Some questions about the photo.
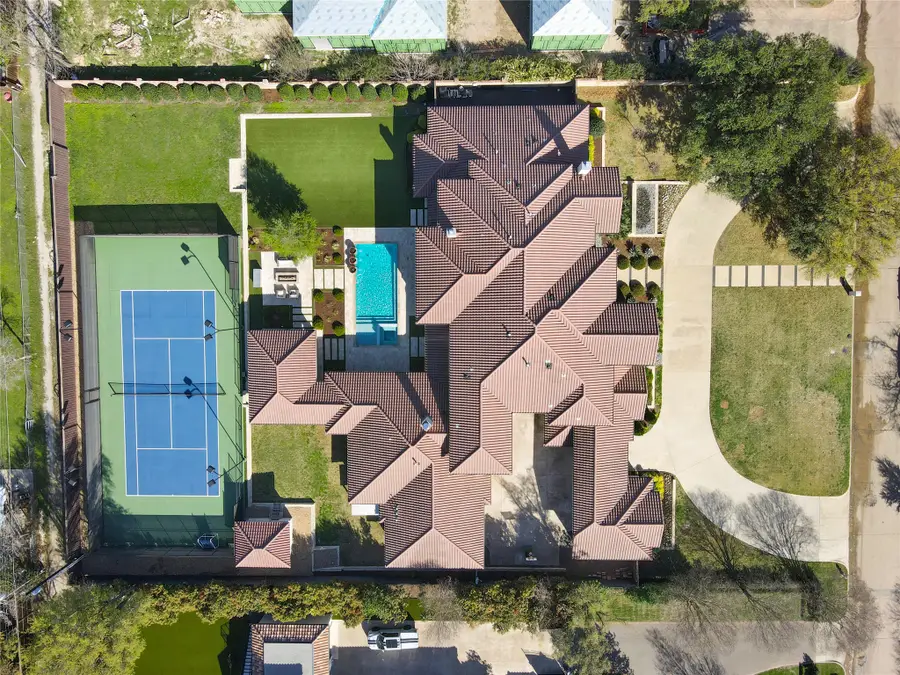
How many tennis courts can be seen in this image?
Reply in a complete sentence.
Just 1 tennis court appears in this view.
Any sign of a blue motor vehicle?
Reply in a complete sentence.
No, there isn't any blue motor vehicle down there.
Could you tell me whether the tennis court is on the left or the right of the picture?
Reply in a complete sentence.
The tennis court is on the left side of the image.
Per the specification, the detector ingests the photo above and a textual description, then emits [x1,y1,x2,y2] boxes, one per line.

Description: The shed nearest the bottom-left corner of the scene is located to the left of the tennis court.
[0,465,47,508]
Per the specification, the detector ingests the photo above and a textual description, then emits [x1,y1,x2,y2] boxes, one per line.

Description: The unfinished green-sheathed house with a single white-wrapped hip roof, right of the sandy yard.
[529,0,612,49]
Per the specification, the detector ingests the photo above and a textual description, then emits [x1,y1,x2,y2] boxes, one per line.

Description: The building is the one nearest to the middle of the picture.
[247,103,664,570]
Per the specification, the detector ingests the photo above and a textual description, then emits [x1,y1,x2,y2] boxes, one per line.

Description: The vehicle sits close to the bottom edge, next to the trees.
[368,628,418,653]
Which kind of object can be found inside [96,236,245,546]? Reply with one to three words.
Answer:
tennis court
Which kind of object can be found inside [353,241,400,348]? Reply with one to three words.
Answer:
swimming pool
